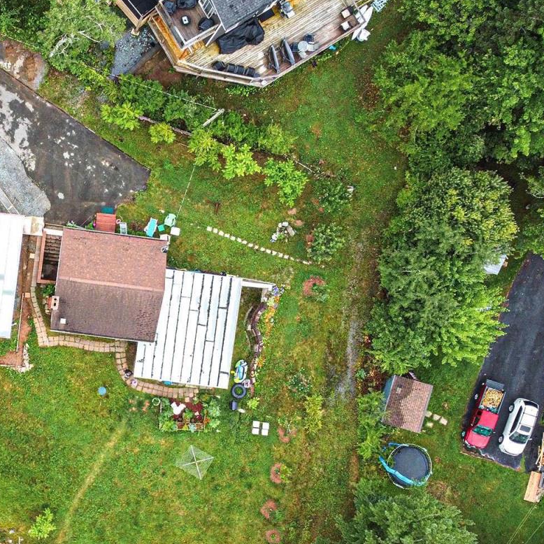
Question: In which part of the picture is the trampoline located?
bottom right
